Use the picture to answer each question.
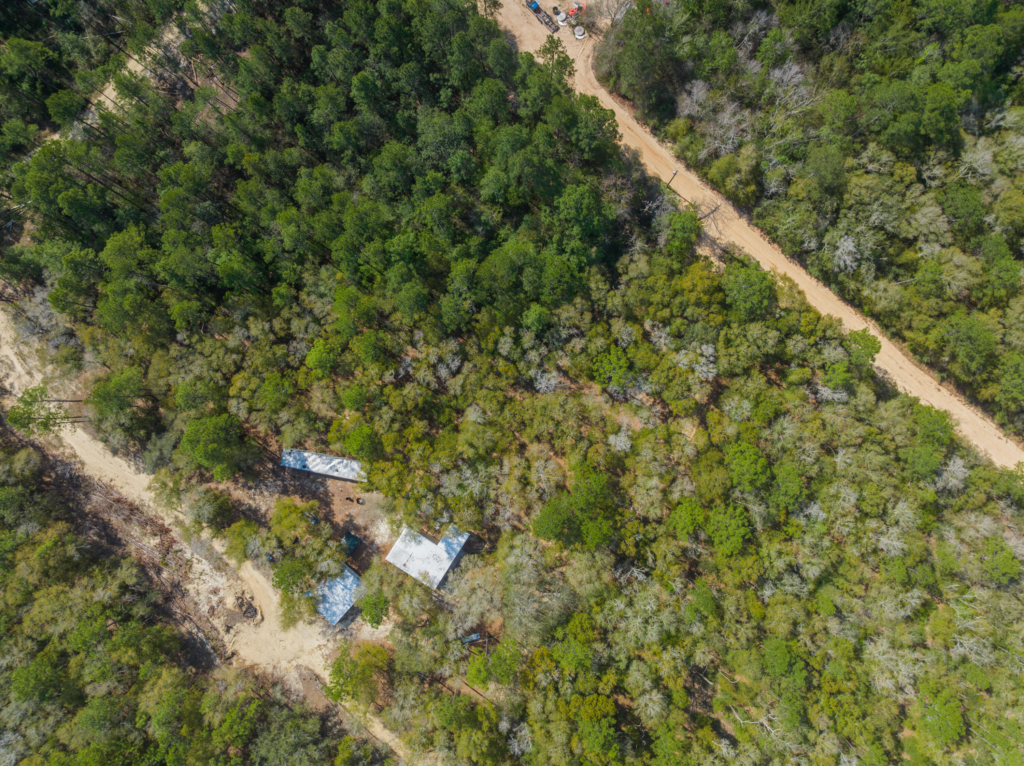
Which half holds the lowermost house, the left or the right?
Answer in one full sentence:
The lowermost house sits on the left side.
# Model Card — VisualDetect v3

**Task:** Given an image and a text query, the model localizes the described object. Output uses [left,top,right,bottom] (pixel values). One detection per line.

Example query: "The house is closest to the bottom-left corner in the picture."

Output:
[306,563,365,625]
